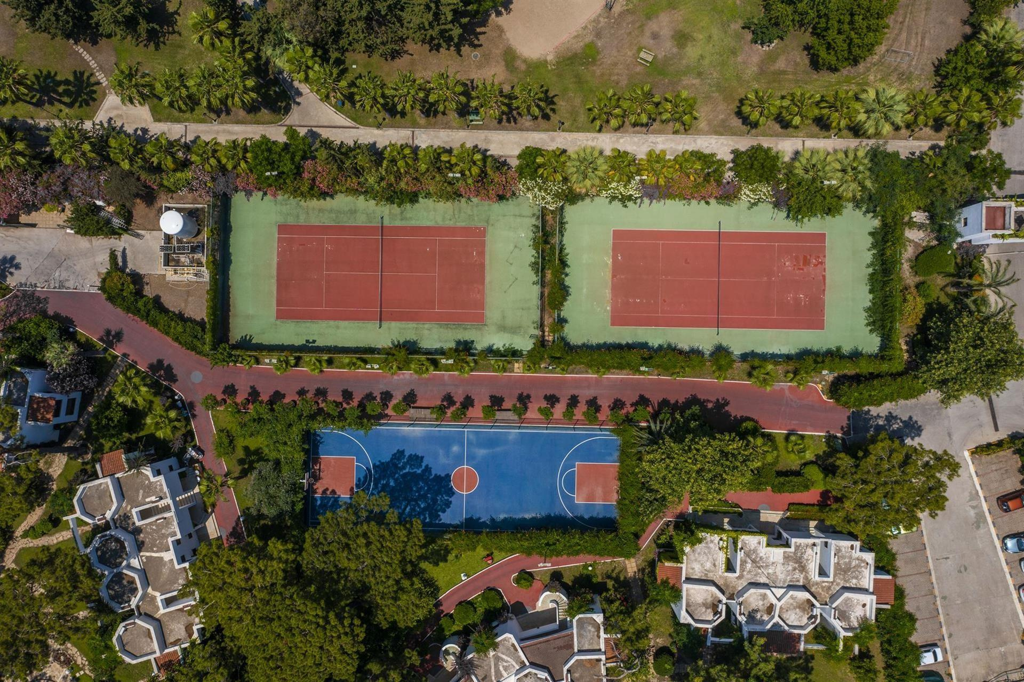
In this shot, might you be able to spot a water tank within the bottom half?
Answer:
No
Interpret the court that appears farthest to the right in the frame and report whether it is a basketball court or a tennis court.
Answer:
tennis court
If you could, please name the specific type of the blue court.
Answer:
basketball court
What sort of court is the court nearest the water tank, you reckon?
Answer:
tennis court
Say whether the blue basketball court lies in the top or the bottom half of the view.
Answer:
bottom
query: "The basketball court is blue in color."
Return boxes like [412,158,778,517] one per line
[305,422,623,533]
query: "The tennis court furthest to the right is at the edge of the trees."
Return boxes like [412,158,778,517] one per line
[555,195,878,359]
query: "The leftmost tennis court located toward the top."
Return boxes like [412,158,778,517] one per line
[229,188,538,355]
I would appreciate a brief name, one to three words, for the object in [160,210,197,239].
water tank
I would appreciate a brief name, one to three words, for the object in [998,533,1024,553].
car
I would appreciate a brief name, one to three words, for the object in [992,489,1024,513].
car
